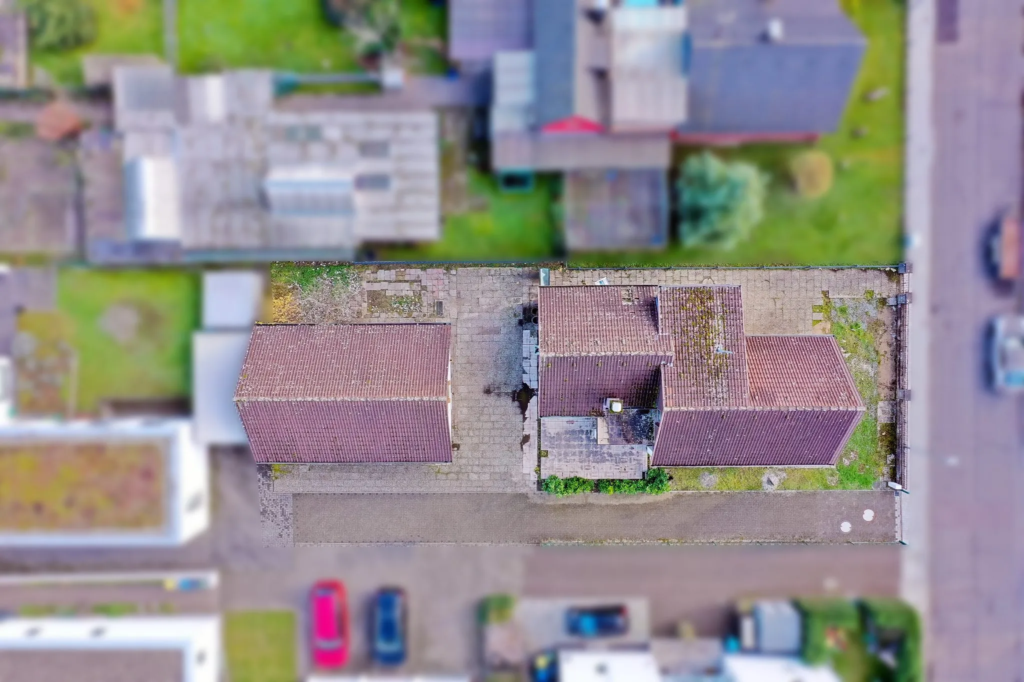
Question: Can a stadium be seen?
No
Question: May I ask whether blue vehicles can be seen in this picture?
Yes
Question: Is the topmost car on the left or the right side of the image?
right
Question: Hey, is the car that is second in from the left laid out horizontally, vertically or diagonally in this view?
vertically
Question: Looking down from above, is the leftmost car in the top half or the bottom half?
bottom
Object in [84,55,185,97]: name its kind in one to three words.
shed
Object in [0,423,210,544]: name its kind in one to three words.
house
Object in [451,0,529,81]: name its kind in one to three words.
building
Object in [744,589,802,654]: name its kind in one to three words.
shed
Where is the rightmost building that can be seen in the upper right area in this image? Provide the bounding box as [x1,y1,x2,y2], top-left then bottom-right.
[671,3,868,144]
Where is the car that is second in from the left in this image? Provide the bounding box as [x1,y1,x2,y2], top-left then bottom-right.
[367,589,408,670]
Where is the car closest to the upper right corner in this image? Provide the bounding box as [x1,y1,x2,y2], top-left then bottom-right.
[981,207,1024,293]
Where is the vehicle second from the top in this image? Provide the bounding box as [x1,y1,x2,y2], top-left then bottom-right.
[986,315,1024,396]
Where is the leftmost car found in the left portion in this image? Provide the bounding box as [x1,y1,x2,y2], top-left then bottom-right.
[302,582,347,673]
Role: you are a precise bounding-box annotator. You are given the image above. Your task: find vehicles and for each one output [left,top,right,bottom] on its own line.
[566,605,629,645]
[986,315,1024,396]
[367,589,408,670]
[981,207,1024,293]
[302,582,347,673]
